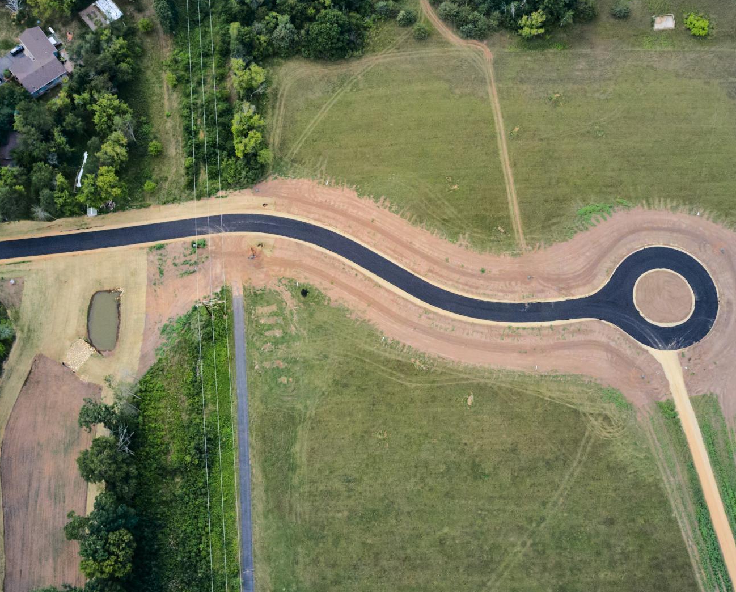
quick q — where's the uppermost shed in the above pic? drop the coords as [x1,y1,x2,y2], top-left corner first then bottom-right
[96,0,126,25]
